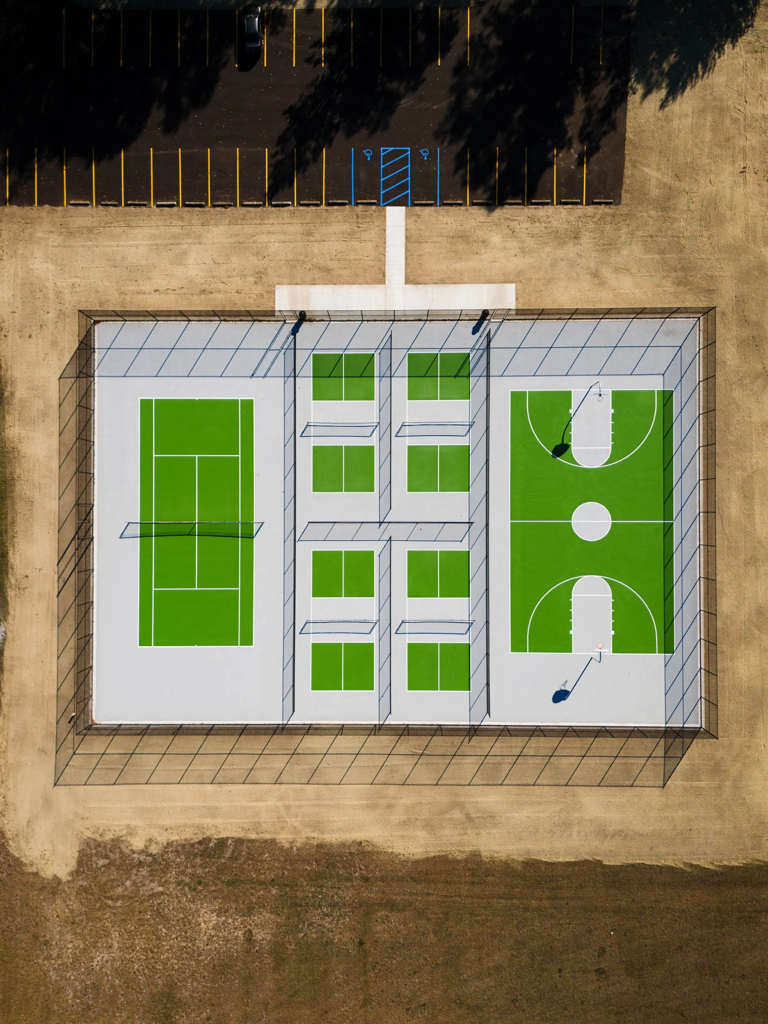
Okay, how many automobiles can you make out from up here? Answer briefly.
1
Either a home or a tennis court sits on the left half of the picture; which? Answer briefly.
tennis court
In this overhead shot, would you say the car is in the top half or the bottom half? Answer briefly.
top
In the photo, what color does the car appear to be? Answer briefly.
black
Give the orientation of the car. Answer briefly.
vertically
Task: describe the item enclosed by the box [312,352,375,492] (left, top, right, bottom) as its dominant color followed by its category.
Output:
green sports court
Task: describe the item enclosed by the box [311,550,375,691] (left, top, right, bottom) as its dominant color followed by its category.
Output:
green sports court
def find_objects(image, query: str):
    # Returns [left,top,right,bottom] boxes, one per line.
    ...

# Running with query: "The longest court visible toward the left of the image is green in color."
[138,398,254,646]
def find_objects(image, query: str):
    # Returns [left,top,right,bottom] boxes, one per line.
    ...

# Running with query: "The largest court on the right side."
[510,389,675,654]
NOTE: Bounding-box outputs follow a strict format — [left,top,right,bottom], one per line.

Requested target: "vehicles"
[241,3,264,51]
